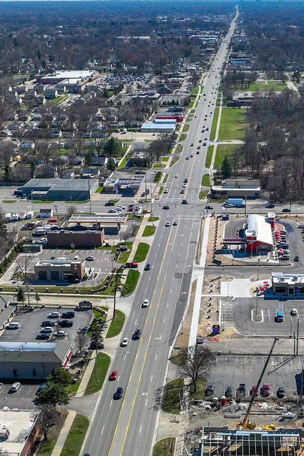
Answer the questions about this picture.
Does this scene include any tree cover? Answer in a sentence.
Yes, tree cover can be seen from above here.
